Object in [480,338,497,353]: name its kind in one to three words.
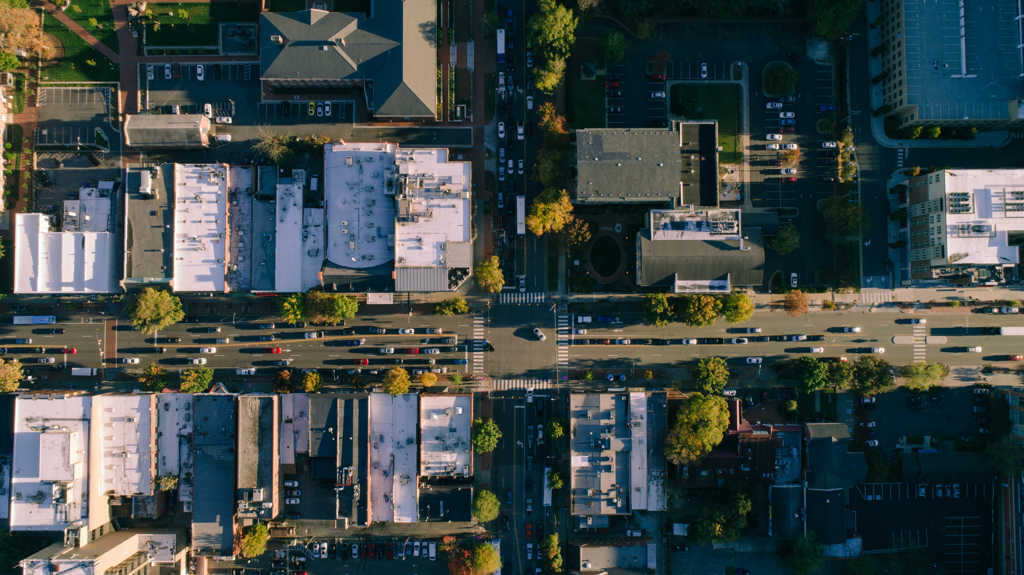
vehicle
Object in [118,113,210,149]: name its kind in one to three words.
house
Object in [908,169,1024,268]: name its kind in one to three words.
building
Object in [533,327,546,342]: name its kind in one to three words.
vehicle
